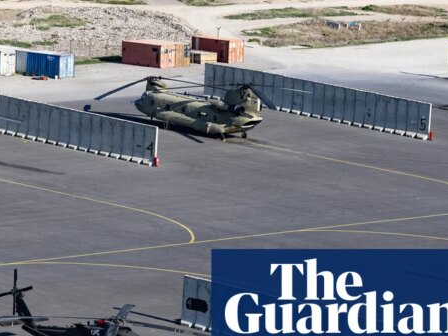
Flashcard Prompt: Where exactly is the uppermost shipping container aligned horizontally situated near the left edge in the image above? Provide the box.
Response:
[15,46,75,77]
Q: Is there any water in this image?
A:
No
